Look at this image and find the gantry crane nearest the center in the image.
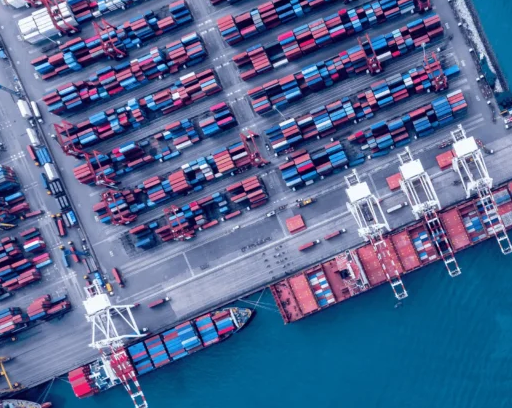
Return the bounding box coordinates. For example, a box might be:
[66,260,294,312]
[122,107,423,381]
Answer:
[236,129,270,170]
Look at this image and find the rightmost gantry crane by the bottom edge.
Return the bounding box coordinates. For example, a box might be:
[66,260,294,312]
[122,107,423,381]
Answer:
[76,277,151,408]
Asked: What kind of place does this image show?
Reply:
port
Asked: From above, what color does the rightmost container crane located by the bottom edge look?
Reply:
white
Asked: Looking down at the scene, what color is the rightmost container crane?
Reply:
white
